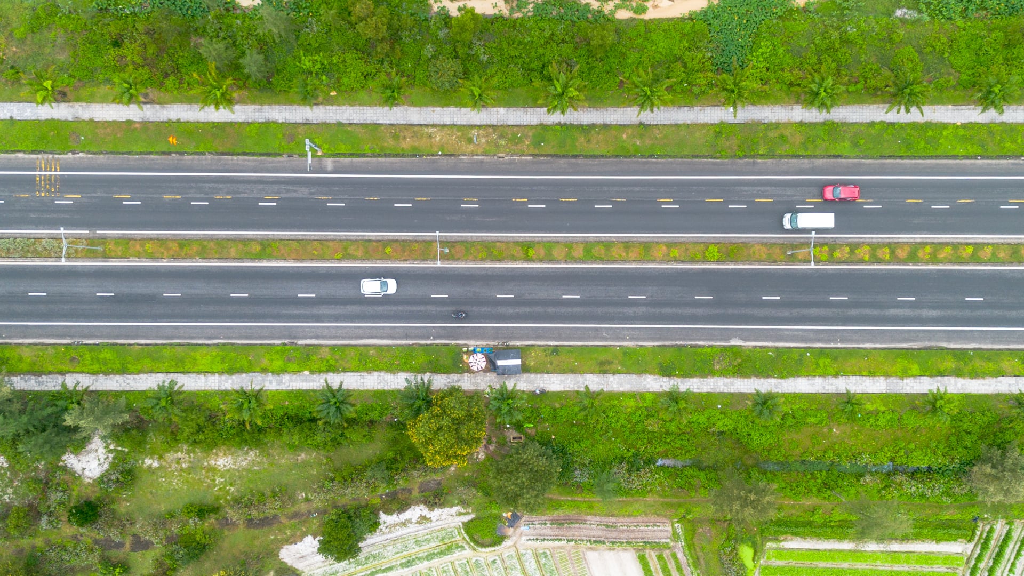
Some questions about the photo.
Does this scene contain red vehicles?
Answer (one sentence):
Yes, a red vehicle can be made out from above.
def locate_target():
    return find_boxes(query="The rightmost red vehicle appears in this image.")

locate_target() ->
[822,184,859,201]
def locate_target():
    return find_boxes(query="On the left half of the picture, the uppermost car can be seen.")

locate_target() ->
[361,278,397,295]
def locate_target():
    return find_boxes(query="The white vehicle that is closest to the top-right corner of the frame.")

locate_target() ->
[781,211,836,231]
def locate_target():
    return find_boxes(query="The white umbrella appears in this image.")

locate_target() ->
[469,353,486,371]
